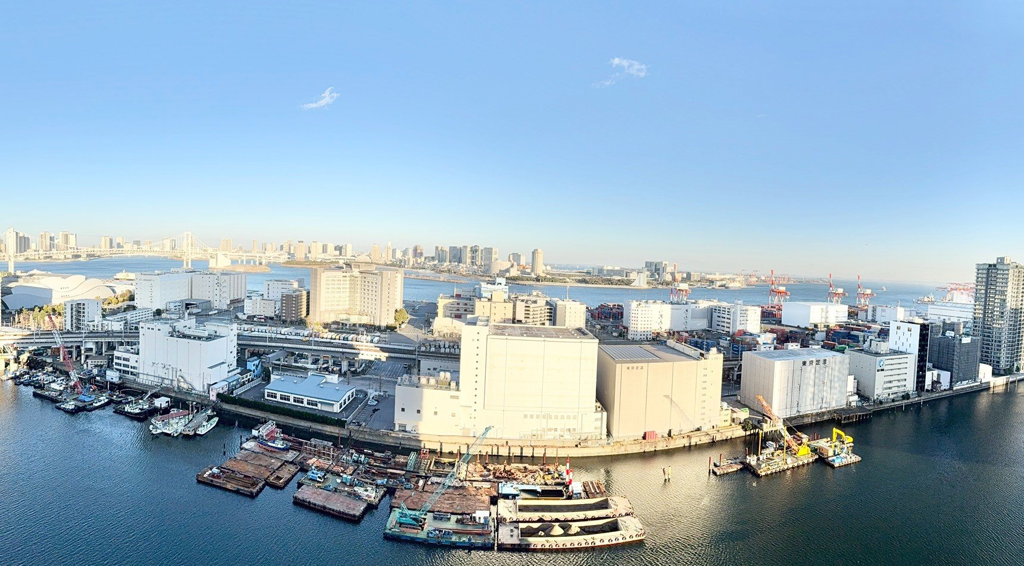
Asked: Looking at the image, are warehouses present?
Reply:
Yes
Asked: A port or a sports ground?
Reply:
port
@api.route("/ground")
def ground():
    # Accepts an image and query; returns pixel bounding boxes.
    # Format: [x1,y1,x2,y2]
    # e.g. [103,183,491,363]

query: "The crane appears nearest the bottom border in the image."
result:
[392,426,494,531]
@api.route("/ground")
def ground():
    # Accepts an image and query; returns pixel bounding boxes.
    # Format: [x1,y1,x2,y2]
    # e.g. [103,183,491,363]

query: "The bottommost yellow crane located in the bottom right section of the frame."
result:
[755,395,819,455]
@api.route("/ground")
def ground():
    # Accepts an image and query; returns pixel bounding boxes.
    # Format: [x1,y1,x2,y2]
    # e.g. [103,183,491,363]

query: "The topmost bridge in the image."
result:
[0,227,309,272]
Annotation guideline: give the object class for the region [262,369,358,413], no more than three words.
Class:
building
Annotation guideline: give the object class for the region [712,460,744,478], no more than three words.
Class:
ship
